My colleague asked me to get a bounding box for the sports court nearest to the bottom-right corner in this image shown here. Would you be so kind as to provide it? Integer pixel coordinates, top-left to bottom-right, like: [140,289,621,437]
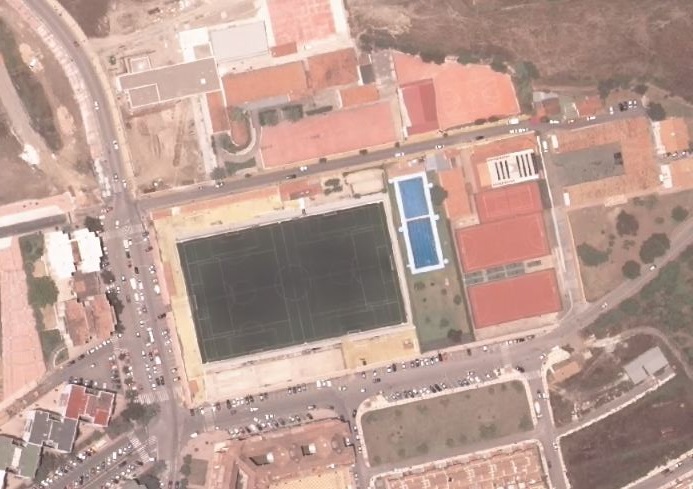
[468,269,562,327]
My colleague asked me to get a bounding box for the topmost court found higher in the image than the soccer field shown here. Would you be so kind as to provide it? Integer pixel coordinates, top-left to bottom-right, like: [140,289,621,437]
[268,0,337,46]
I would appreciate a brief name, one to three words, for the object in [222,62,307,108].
building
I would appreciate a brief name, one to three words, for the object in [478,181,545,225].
tennis court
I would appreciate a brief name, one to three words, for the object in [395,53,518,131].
sports court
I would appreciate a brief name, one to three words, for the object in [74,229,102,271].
building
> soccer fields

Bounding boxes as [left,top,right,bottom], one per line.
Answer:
[177,203,408,363]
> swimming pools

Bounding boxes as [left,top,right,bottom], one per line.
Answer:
[393,172,445,274]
